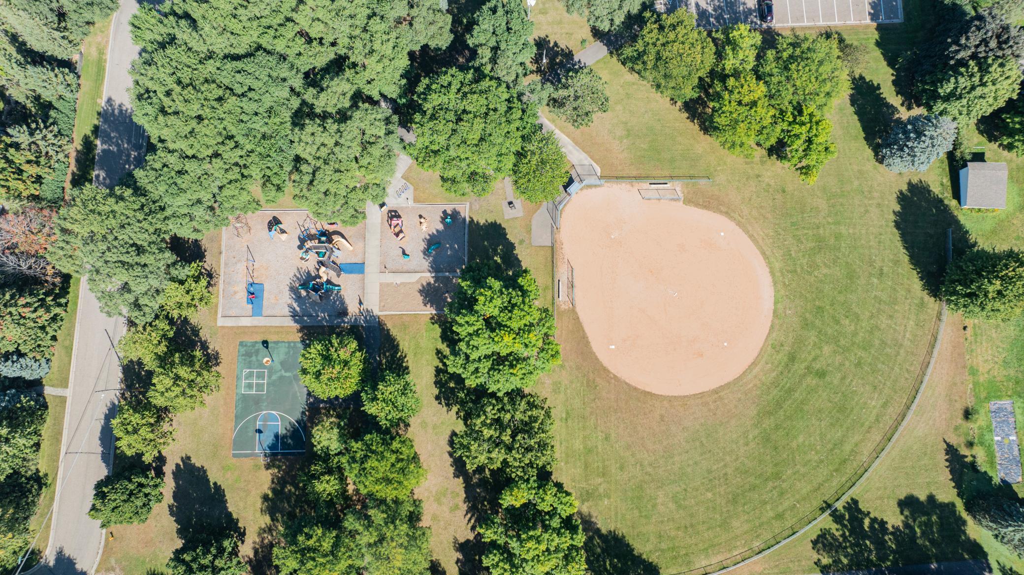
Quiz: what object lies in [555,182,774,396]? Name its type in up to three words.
baseball field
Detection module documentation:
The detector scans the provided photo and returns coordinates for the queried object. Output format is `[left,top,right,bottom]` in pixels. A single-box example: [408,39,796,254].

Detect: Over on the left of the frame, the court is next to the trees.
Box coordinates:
[232,341,307,458]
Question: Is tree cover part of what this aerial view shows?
Yes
